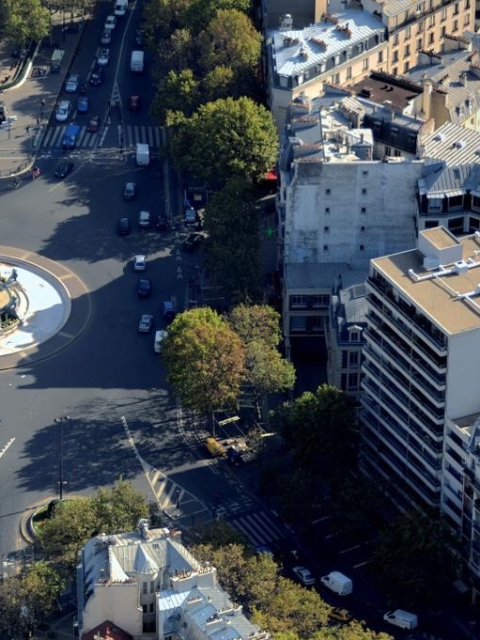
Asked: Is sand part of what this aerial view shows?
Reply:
No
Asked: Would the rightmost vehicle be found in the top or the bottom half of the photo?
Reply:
bottom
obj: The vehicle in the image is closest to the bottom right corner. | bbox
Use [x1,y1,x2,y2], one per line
[384,606,419,630]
